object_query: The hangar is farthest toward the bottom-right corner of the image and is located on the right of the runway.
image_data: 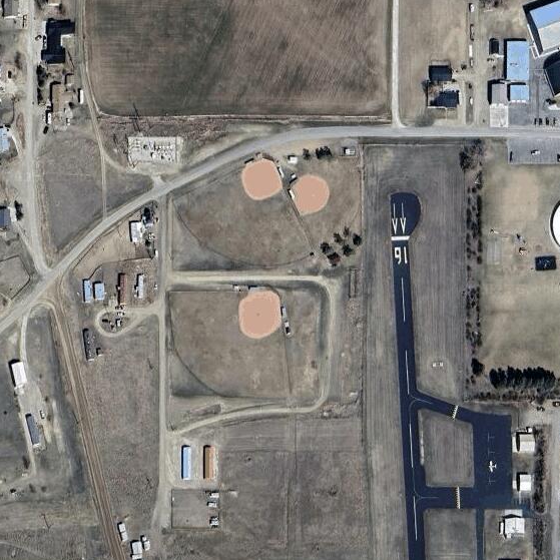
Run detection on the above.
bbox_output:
[504,517,524,535]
